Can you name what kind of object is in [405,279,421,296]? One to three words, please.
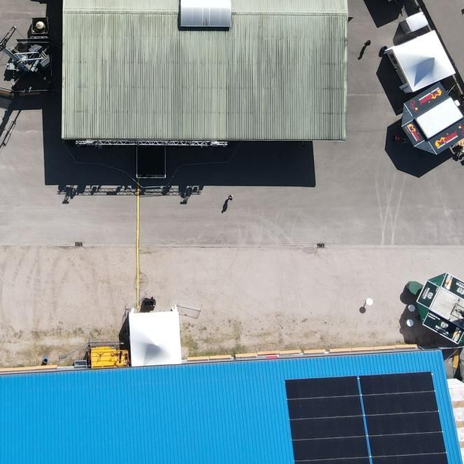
umbrella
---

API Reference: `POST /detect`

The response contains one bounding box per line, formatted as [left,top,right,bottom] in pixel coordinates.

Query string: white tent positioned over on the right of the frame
[385,31,455,93]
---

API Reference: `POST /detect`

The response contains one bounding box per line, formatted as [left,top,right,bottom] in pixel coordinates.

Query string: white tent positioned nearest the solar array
[130,307,181,366]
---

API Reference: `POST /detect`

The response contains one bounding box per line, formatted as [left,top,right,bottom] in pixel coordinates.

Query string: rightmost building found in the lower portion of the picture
[413,272,464,341]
